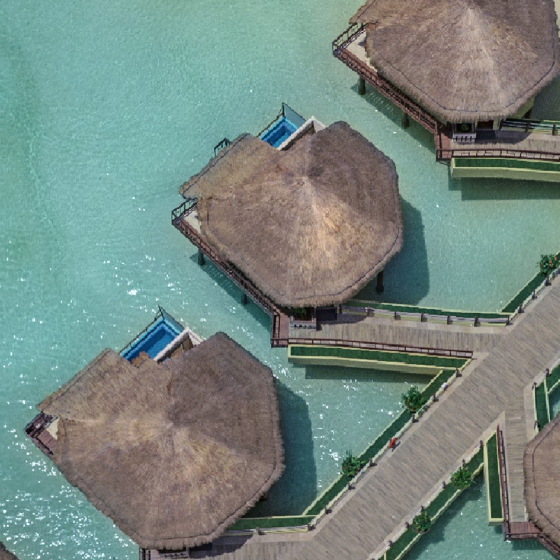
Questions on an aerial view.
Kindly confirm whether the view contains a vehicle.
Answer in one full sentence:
No, I can't see a single vehicle in this photo.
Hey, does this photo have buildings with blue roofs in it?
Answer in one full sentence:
No, this view has no building with a blue roof in it.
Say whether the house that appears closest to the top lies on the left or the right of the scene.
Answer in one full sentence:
The house that appears closest to the top appears in the right half of the scene.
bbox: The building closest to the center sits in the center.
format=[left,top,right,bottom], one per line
[163,104,405,347]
